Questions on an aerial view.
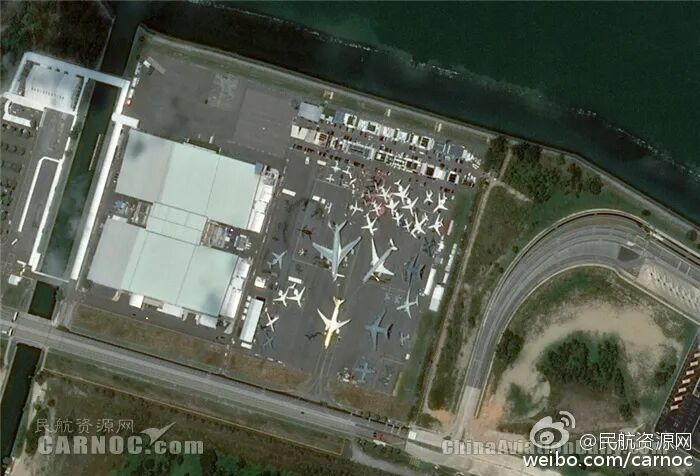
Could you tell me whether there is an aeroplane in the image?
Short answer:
Yes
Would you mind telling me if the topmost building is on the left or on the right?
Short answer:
left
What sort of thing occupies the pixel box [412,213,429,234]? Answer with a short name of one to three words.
airplane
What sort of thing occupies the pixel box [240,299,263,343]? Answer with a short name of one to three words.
building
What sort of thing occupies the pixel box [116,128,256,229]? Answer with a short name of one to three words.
building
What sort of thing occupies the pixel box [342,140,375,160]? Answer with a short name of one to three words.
house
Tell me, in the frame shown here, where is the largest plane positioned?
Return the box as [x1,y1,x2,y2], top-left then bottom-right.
[313,220,360,279]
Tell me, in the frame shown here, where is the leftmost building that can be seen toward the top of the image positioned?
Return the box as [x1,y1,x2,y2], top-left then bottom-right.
[25,64,78,110]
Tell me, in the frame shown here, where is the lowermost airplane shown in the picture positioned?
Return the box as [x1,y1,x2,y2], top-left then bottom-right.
[353,362,375,380]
